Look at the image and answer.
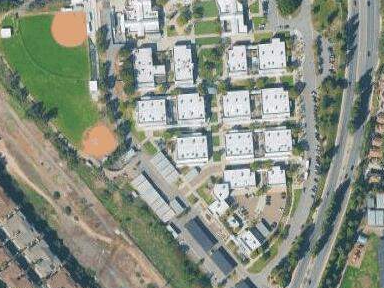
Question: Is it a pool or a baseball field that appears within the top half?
baseball field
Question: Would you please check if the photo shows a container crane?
No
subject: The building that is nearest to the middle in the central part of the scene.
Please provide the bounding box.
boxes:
[176,136,208,165]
